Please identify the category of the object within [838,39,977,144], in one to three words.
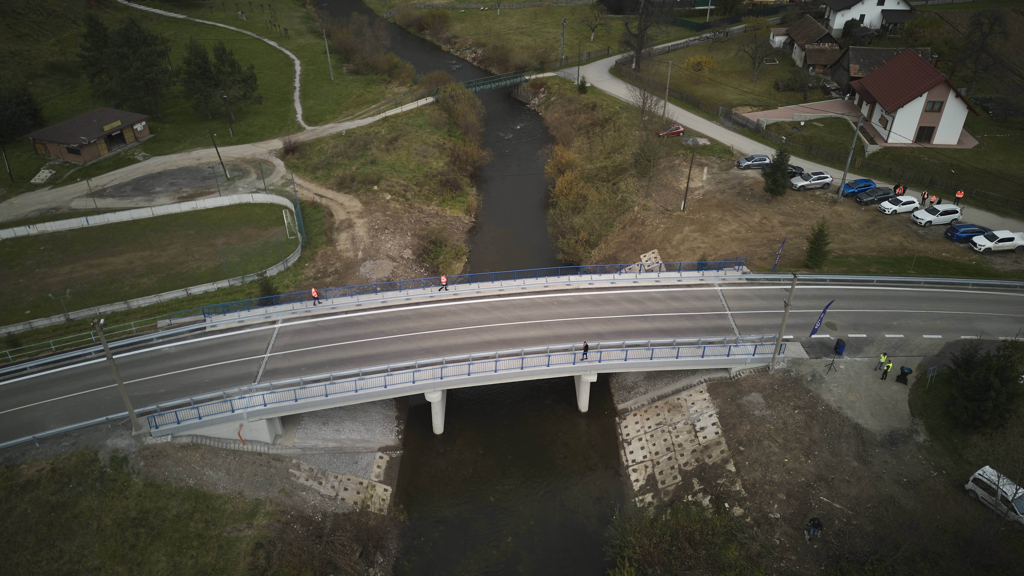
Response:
house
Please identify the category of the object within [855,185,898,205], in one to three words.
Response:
car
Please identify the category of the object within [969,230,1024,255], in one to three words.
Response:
truck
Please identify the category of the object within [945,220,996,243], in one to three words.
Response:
car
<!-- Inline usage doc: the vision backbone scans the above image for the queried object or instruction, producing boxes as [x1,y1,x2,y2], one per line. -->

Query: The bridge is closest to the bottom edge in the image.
[152,256,785,445]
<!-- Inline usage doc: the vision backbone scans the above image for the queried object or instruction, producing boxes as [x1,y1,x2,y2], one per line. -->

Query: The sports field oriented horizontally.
[0,191,300,336]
